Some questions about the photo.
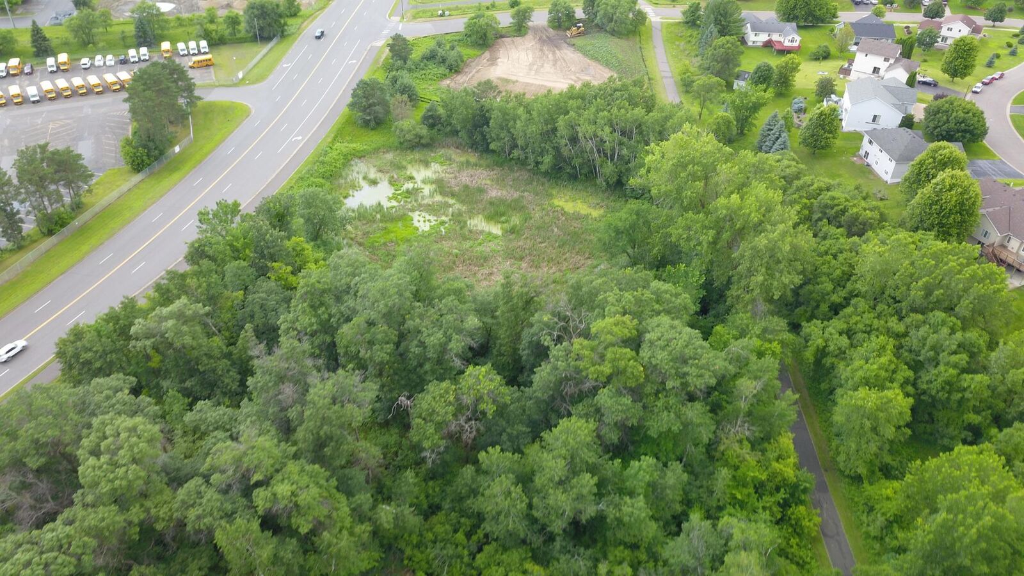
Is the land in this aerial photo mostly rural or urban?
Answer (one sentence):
From above, the setting appears rural.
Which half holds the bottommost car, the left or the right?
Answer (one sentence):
The bottommost car appears in the left half of the scene.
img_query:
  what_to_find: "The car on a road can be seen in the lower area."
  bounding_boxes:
[0,342,26,364]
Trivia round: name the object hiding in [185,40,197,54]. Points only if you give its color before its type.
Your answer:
white vehicle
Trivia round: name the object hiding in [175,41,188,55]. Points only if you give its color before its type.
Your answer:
white vehicle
